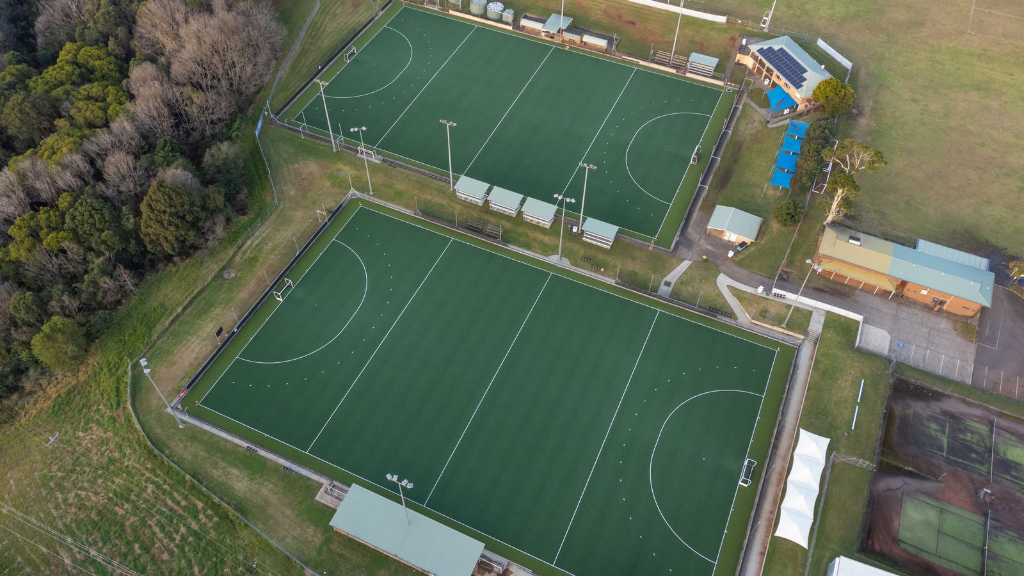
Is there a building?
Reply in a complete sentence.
Yes, the picture does show a building.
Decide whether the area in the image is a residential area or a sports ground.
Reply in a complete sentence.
It's a sports ground.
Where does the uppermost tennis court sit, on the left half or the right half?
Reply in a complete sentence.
It is on the right.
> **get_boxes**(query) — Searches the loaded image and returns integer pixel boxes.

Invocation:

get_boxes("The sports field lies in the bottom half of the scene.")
[178,195,798,576]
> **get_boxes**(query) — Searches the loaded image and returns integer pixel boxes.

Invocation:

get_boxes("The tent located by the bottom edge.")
[772,429,830,552]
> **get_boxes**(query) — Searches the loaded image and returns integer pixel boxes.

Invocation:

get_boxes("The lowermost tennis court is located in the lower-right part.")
[894,486,1024,576]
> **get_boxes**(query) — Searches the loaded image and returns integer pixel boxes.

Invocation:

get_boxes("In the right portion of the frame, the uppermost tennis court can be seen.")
[902,404,1024,500]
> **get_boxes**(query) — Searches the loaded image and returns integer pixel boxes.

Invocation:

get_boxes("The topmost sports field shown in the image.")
[278,0,737,248]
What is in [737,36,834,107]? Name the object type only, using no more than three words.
building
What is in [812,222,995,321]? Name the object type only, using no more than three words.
building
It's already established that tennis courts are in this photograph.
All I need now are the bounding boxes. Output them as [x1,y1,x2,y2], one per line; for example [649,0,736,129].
[902,404,1024,500]
[894,486,1024,576]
